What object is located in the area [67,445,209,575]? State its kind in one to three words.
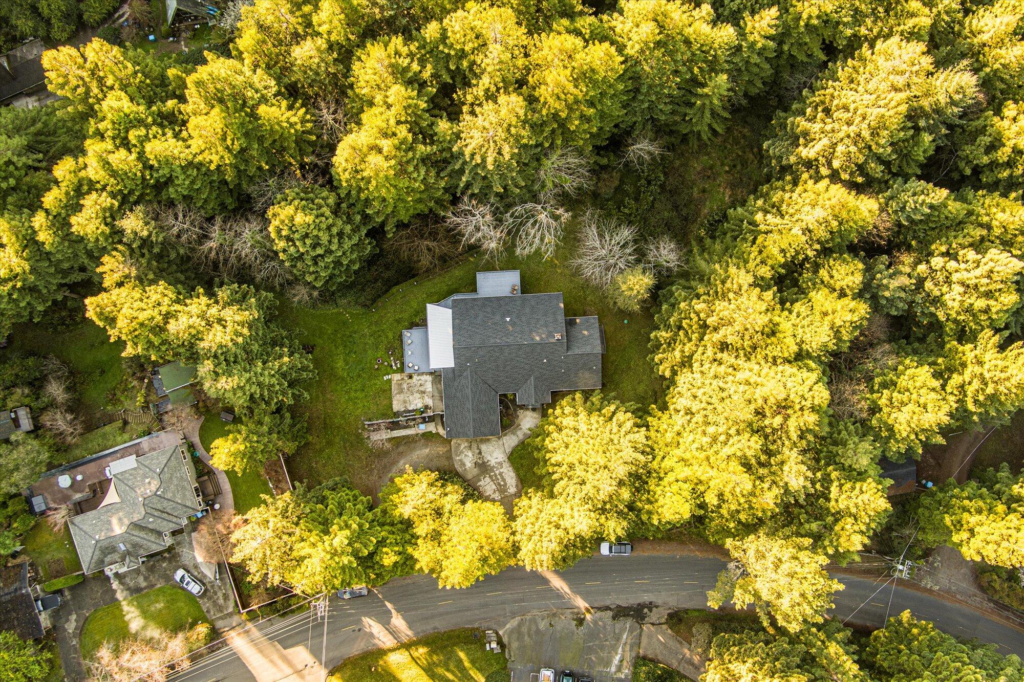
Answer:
house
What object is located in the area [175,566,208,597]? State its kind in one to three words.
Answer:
car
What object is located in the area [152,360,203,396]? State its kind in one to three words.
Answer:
shed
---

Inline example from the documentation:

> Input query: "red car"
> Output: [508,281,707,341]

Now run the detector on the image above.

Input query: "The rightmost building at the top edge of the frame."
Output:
[168,0,218,28]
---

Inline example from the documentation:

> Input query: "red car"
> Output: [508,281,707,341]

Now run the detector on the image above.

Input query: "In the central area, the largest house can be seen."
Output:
[442,292,607,438]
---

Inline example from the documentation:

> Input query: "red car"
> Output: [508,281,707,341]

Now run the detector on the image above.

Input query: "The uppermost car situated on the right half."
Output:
[600,540,633,557]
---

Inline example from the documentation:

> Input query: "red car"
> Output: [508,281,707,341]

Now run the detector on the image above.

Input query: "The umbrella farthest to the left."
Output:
[60,474,76,487]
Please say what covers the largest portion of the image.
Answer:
trees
